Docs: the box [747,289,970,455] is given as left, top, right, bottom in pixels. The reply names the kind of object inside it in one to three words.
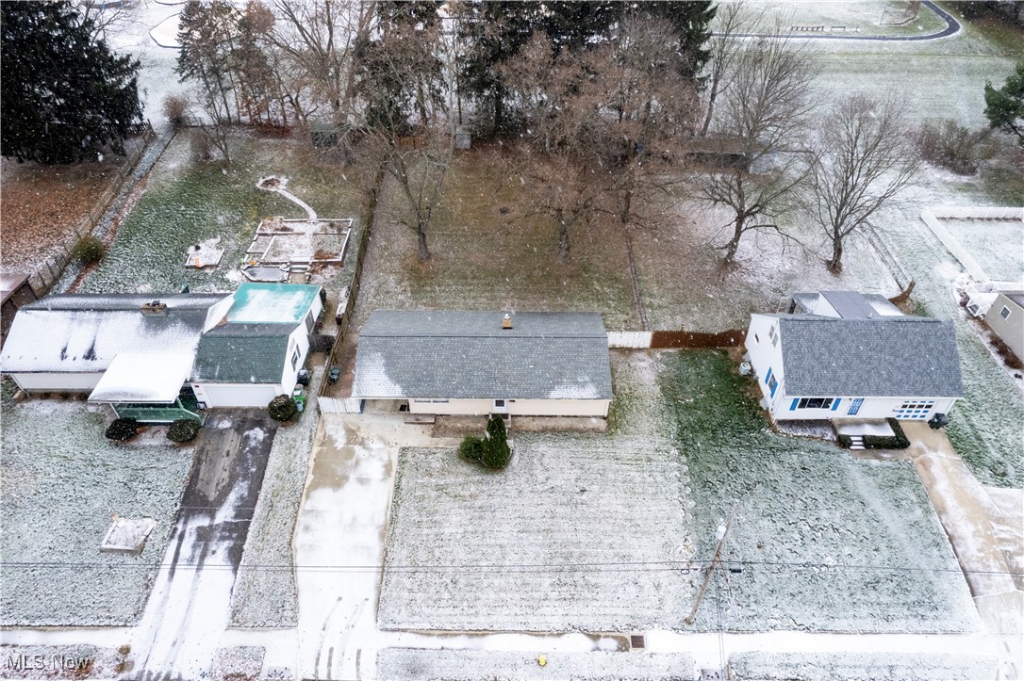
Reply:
house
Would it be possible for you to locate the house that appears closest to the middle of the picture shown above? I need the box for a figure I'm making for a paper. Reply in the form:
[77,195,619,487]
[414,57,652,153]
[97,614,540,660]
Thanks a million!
[354,311,613,429]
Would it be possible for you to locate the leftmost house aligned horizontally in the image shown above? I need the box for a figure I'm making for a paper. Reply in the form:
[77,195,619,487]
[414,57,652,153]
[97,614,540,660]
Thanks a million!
[0,283,319,428]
